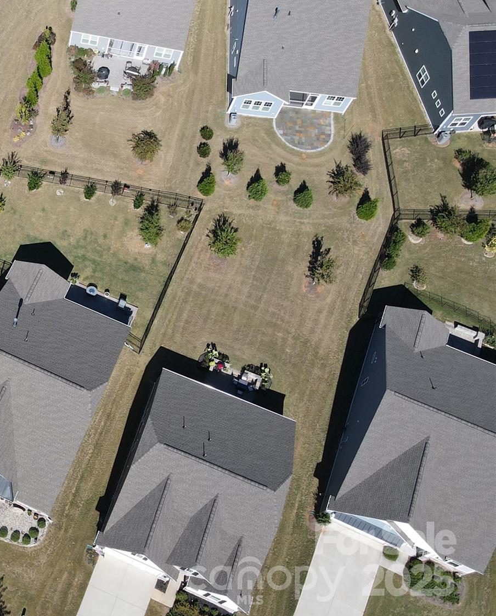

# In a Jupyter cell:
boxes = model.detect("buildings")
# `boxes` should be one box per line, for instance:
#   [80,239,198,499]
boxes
[90,367,296,615]
[0,260,132,520]
[391,0,496,129]
[223,0,370,121]
[318,305,496,585]
[69,0,194,68]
